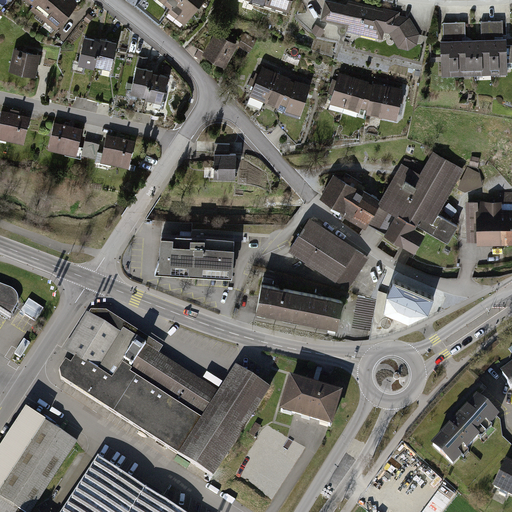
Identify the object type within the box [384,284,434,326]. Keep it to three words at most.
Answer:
building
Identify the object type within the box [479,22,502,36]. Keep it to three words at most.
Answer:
building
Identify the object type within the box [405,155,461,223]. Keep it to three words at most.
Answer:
barn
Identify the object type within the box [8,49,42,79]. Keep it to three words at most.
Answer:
house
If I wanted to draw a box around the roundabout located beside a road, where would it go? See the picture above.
[358,342,425,408]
